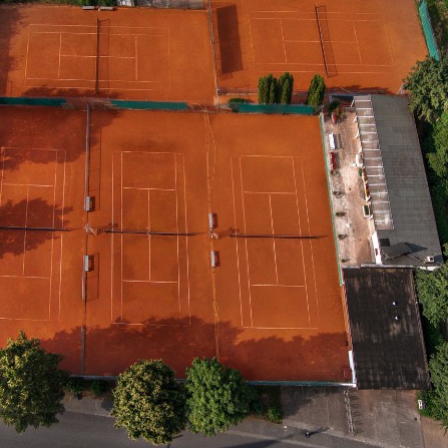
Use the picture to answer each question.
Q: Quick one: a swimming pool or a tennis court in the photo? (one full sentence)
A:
It is a tennis court that can be seen here.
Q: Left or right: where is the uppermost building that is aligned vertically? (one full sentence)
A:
You can find the uppermost building that is aligned vertically on the right side of the picture.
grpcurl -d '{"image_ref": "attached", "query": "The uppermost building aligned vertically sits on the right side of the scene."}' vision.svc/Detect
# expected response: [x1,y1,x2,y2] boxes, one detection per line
[352,92,443,269]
